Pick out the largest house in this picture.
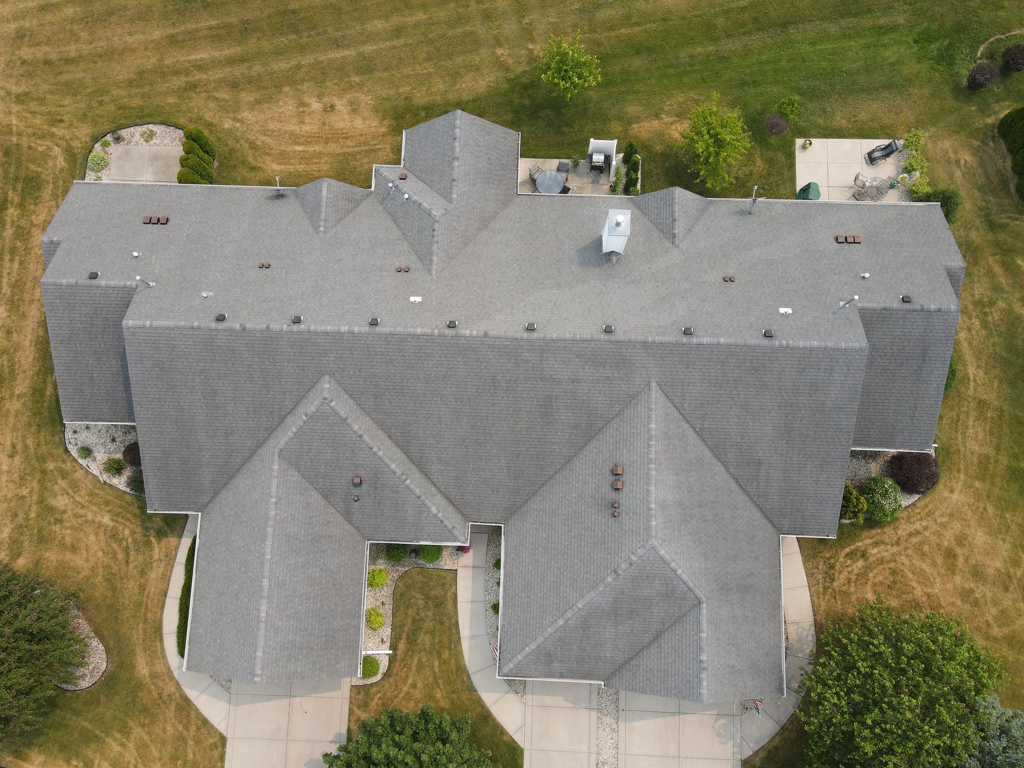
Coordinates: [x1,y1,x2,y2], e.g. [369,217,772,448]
[40,112,964,704]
